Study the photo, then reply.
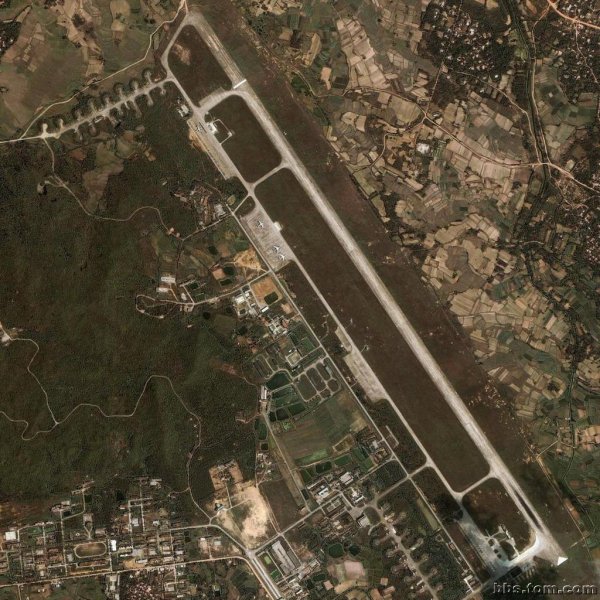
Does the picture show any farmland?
Yes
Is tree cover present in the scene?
Yes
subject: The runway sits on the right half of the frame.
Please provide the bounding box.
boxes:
[233,79,567,570]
